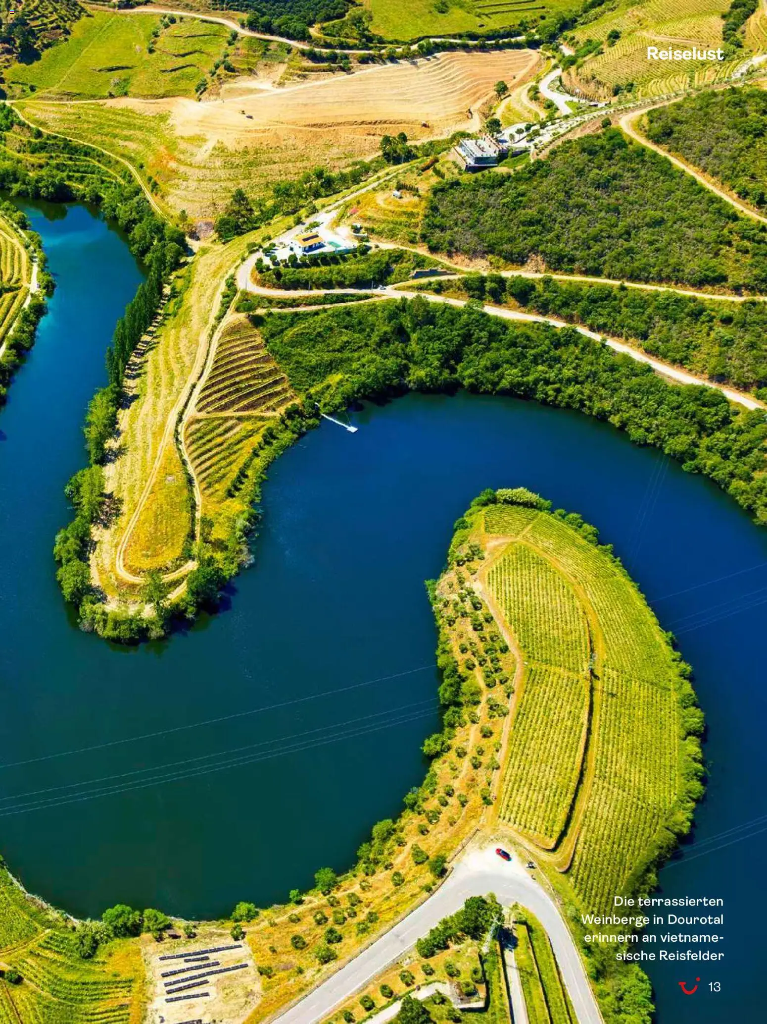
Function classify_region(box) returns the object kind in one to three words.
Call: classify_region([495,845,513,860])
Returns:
car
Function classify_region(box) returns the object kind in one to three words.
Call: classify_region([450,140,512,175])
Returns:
building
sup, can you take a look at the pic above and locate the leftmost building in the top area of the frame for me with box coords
[298,232,332,252]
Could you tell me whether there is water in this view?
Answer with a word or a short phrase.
Yes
